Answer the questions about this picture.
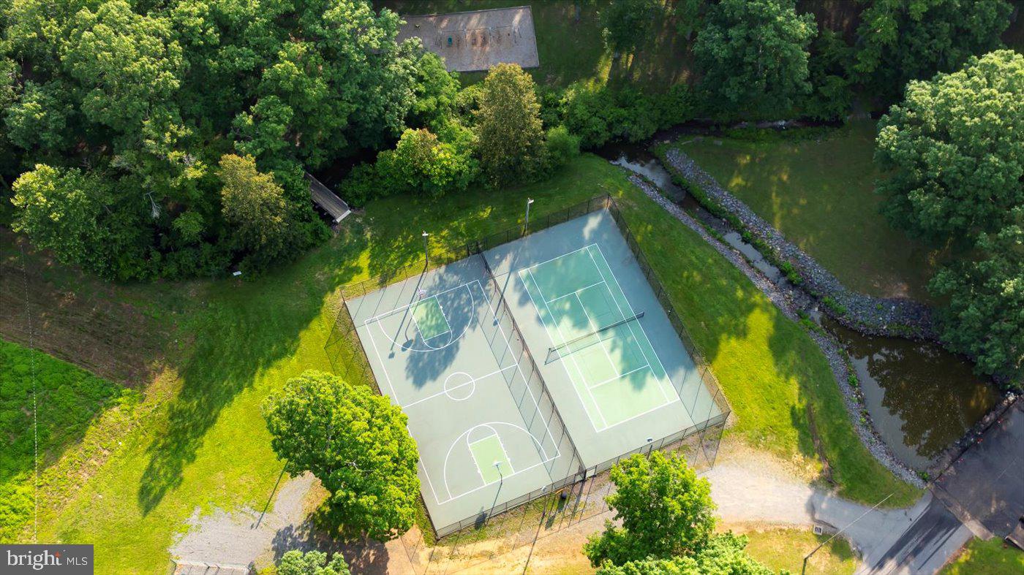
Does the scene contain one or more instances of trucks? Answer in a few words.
No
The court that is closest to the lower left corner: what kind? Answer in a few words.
basketball court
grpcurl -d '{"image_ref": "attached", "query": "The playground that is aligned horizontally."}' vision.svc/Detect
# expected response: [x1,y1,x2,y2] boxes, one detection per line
[375,5,540,77]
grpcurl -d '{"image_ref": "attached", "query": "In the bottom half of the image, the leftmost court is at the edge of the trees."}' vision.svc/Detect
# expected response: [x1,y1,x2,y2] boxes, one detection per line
[347,252,588,536]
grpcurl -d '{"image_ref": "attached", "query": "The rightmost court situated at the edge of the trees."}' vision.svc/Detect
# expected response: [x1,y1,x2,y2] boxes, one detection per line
[483,208,724,477]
